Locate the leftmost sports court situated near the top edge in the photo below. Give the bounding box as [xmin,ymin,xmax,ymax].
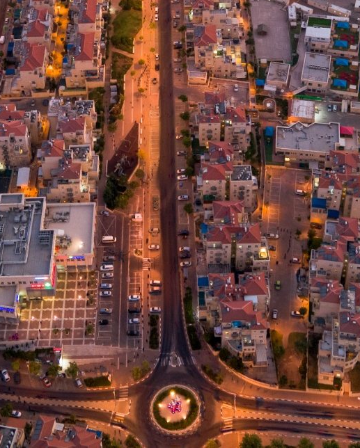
[251,0,290,59]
